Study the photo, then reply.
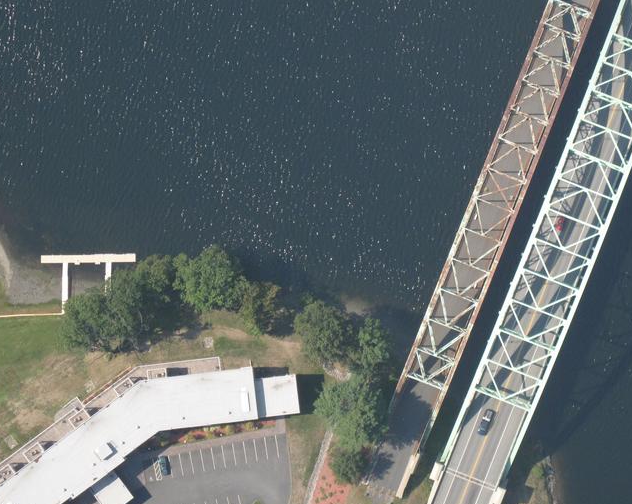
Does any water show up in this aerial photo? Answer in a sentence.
Yes, water can be seen from above here.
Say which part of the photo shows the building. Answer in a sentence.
The building is in the bottom left part of the image.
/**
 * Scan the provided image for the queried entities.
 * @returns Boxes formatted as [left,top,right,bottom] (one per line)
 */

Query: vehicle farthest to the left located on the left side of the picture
[158,454,171,476]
